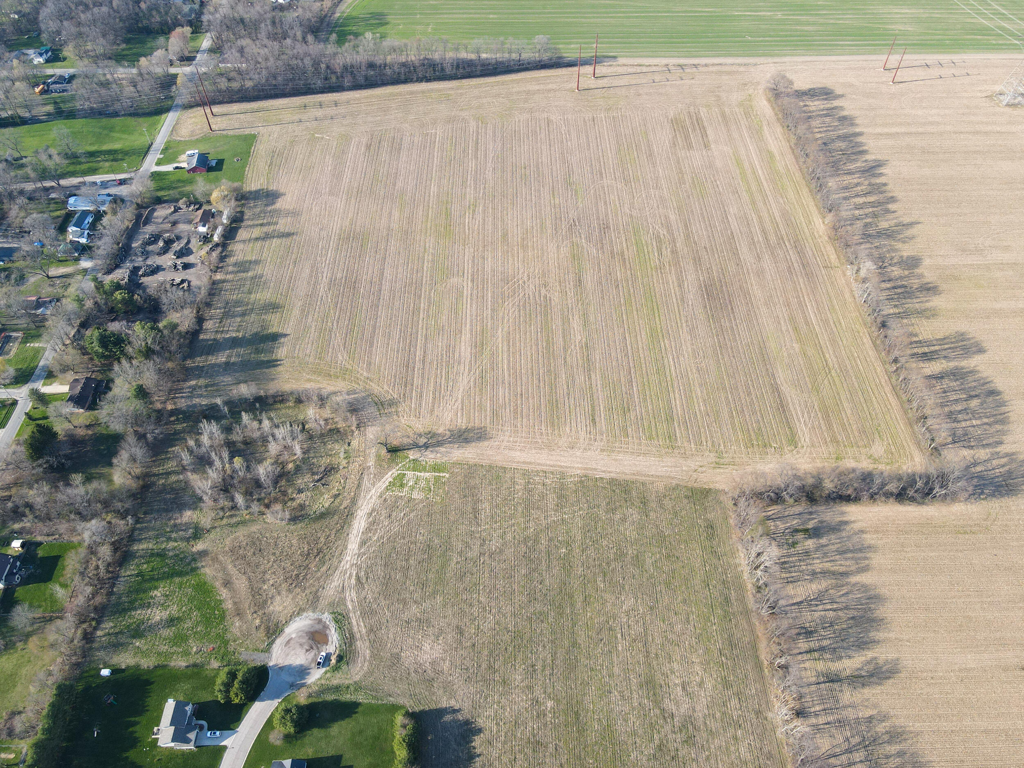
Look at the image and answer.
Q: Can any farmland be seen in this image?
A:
Yes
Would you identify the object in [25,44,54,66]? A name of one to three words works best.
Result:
house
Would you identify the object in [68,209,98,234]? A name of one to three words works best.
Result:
house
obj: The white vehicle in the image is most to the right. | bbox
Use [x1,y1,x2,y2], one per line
[314,651,326,669]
